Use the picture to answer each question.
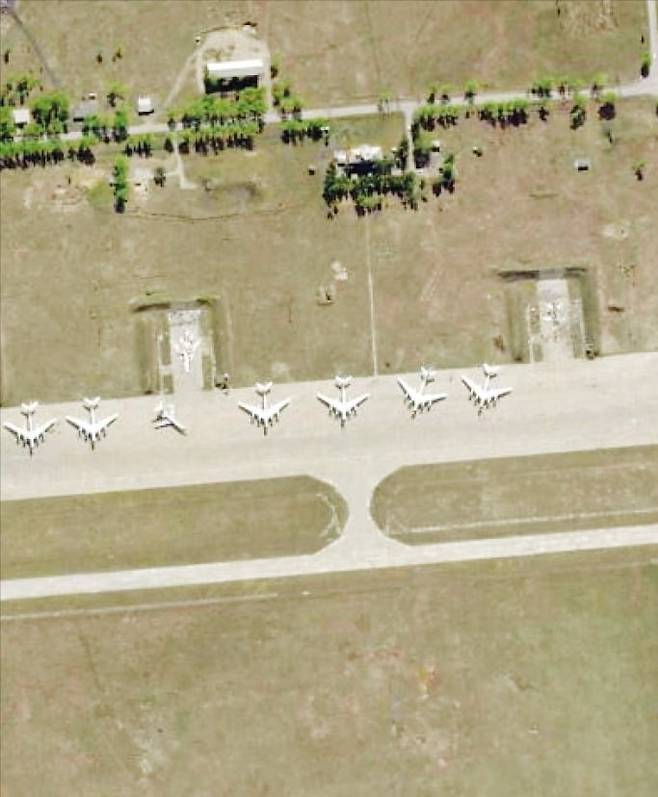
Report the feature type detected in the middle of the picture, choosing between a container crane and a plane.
plane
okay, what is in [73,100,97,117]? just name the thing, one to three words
house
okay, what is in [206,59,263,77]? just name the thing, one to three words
barn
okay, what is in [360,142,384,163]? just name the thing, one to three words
house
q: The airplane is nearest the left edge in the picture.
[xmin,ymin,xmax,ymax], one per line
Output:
[4,402,56,451]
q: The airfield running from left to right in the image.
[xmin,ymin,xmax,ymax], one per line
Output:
[0,277,658,600]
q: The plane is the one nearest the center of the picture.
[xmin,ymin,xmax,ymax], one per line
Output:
[317,375,369,424]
